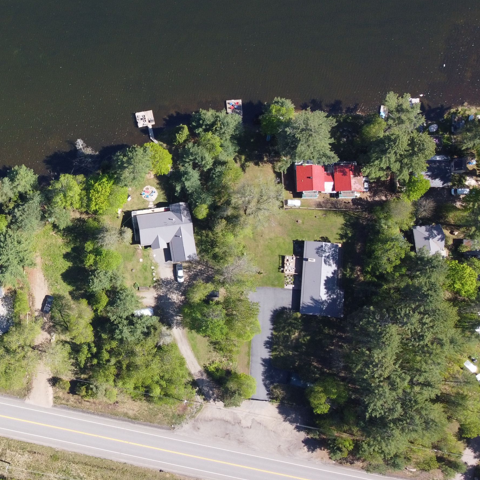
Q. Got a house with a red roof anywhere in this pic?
Yes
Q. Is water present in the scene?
Yes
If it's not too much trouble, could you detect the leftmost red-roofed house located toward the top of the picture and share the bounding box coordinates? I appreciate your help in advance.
[294,164,325,199]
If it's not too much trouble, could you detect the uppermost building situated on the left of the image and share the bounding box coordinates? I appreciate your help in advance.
[136,201,199,262]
